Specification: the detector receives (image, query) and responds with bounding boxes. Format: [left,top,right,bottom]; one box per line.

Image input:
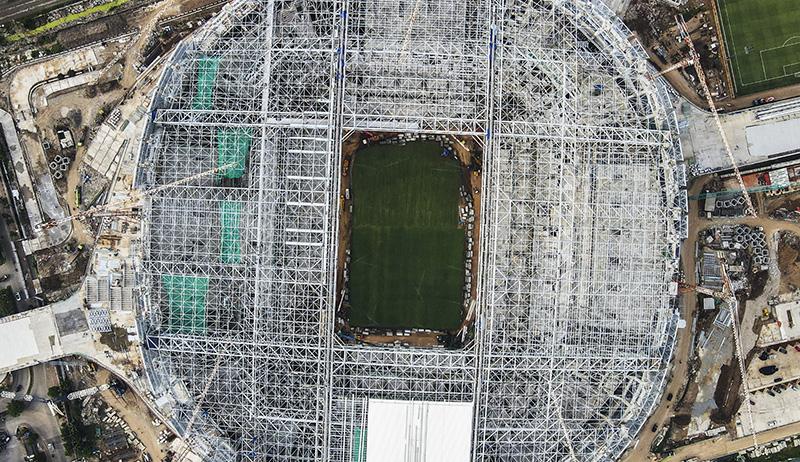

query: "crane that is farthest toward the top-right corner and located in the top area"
[656,13,752,214]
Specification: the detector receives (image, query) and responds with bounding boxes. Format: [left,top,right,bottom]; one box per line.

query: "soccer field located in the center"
[344,134,467,337]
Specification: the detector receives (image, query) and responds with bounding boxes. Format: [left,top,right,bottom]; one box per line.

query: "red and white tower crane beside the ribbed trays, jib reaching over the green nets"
[38,163,237,224]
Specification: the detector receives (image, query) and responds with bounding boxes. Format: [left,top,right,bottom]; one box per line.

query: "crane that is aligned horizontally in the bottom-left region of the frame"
[0,378,126,403]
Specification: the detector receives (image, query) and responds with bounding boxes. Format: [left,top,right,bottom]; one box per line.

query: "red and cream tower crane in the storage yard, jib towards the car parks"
[681,252,763,451]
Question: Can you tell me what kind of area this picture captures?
sports ground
